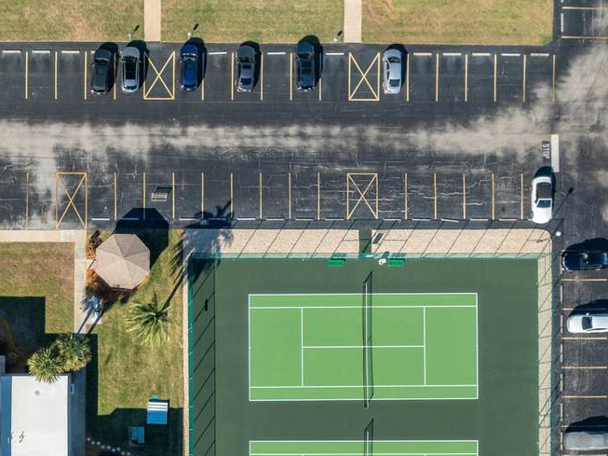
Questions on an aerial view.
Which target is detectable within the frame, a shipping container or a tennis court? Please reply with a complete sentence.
There is a tennis court in the scene.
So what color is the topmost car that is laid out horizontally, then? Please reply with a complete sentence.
The color of the topmost car that is laid out horizontally is black.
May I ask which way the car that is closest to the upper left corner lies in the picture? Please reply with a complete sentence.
In this picture, the car that is closest to the upper left corner is oriented vertically.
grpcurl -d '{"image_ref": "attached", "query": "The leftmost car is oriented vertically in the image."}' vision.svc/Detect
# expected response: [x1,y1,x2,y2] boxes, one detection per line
[90,49,112,96]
